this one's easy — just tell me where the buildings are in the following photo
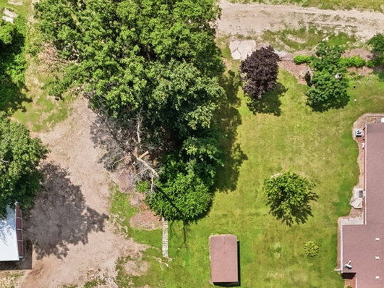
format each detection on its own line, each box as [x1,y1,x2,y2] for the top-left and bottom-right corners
[0,199,25,261]
[341,123,384,288]
[209,234,239,283]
